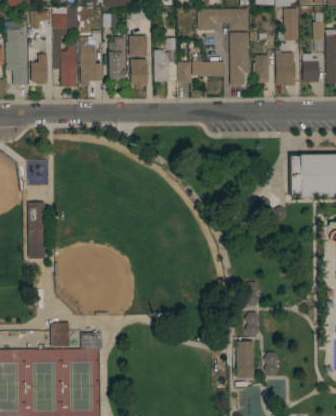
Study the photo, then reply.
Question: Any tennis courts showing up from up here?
Yes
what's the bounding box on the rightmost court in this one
[71,363,92,412]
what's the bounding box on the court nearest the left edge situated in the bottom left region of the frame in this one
[0,363,19,412]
